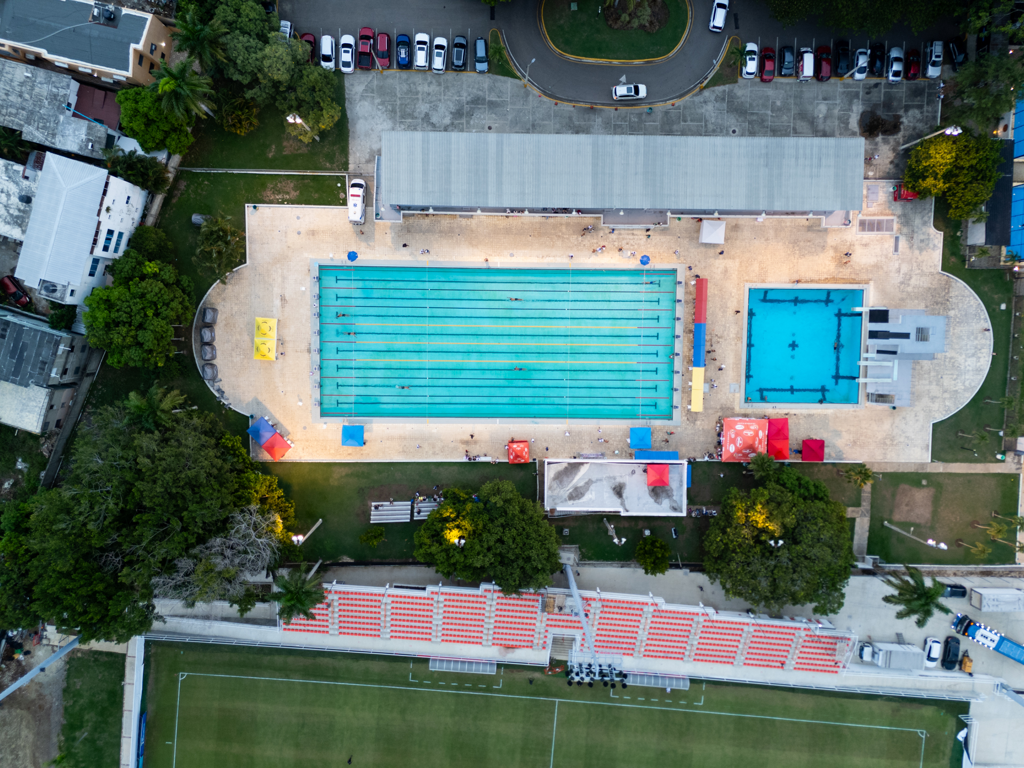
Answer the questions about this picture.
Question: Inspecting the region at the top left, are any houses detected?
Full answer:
Yes, a house is visible at the top left.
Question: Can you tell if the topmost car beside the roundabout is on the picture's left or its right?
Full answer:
The topmost car beside the roundabout appears in the right half of the scene.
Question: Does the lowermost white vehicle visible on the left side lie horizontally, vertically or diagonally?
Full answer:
Seen from above, the lowermost white vehicle visible on the left side lies vertically.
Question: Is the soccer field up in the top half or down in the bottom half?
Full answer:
You can find the soccer field in the bottom half.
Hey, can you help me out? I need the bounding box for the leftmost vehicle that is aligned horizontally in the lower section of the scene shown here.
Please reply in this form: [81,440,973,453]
[861,644,926,673]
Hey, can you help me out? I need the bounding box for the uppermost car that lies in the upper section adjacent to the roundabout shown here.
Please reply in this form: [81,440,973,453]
[707,0,730,37]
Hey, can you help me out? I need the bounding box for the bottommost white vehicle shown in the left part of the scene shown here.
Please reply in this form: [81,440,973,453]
[347,179,368,225]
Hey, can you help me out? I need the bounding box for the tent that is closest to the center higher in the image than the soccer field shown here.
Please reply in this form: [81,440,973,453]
[509,440,529,463]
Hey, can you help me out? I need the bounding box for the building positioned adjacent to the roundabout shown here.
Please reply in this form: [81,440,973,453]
[374,132,865,230]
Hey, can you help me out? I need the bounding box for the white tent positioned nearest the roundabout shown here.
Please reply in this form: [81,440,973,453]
[697,220,726,246]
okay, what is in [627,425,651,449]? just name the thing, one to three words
tent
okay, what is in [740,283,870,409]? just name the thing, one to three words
swimming pool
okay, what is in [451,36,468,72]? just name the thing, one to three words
car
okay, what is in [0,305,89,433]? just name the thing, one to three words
house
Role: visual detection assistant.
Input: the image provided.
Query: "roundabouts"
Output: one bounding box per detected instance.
[534,0,698,70]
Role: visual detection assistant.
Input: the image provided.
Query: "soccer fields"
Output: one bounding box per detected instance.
[139,640,968,768]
